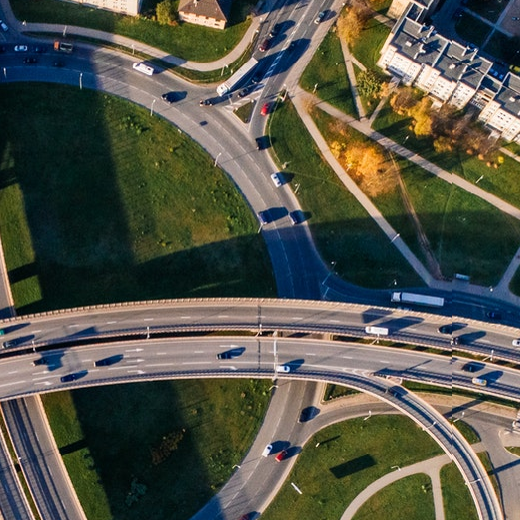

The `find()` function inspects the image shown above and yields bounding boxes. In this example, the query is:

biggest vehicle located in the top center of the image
[218,54,260,96]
